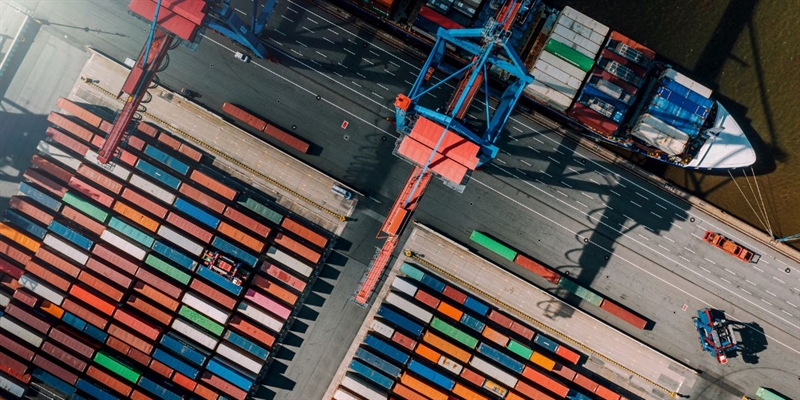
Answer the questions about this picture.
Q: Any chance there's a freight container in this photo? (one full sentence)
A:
Yes, you can see a freight container in this photo.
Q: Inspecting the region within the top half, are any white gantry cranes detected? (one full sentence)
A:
No, looking within the top half, there is no white gantry crane.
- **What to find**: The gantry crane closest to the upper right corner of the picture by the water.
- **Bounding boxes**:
[346,0,555,314]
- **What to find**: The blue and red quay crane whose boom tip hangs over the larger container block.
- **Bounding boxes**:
[88,0,313,175]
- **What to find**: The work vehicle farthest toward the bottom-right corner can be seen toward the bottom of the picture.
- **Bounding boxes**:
[690,304,746,363]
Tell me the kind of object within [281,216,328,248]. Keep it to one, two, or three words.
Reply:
shipping container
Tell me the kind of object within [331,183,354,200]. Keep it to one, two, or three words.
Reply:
vehicle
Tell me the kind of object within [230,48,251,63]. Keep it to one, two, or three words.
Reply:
vehicle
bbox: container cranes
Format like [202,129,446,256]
[88,0,313,175]
[346,0,555,314]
